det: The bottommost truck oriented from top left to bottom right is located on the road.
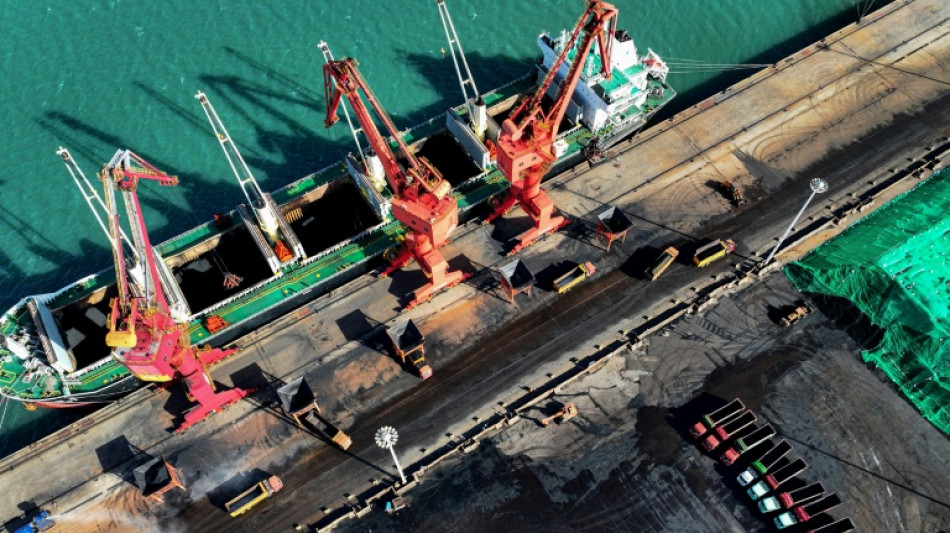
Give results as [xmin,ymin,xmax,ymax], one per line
[302,406,358,453]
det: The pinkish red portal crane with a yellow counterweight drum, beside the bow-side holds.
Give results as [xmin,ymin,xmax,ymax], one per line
[86,154,258,434]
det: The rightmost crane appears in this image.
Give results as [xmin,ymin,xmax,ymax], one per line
[482,0,626,255]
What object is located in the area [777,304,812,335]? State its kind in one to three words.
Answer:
work vehicle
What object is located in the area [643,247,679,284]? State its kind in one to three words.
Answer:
truck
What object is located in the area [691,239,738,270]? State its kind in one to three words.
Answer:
truck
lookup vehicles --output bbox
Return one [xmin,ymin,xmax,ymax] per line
[404,345,434,384]
[777,304,812,335]
[544,399,581,428]
[809,517,856,533]
[722,174,747,197]
[643,247,679,284]
[743,457,807,503]
[753,481,825,517]
[551,260,596,296]
[732,438,792,490]
[691,239,738,270]
[699,410,757,457]
[224,473,287,517]
[717,424,776,470]
[769,492,841,533]
[687,398,745,443]
[386,496,407,517]
[302,406,358,453]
